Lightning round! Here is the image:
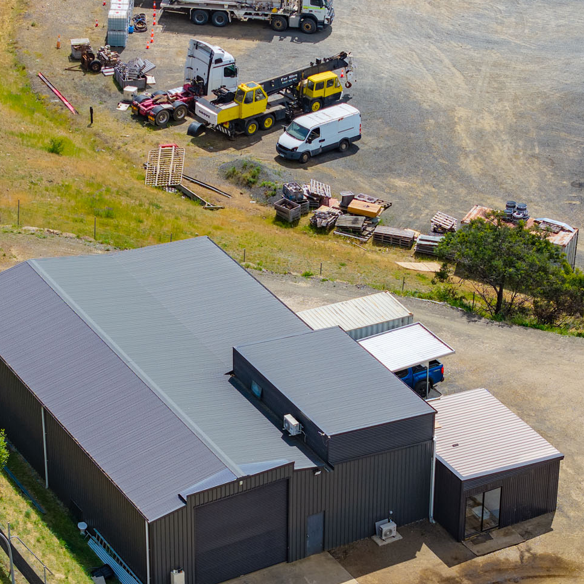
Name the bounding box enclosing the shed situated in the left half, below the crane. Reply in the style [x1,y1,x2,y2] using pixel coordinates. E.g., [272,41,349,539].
[0,238,440,584]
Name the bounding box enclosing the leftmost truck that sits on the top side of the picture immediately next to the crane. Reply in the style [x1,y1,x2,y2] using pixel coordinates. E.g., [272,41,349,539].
[126,36,238,126]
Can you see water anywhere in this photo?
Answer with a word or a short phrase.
No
